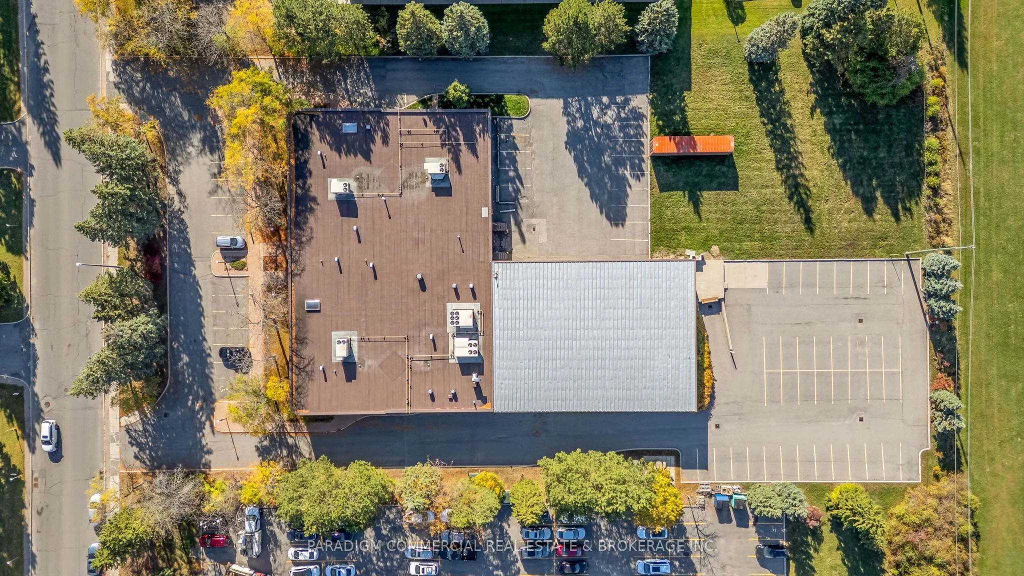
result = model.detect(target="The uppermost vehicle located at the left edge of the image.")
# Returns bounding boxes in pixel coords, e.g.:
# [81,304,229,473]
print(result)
[41,421,59,451]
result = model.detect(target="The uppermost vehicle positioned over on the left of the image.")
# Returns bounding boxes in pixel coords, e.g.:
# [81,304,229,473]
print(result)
[216,235,246,249]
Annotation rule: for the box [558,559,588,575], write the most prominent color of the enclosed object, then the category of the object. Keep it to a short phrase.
black car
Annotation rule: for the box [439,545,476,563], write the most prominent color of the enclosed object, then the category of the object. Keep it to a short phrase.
black vehicle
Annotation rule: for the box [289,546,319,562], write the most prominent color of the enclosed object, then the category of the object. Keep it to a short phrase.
white car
